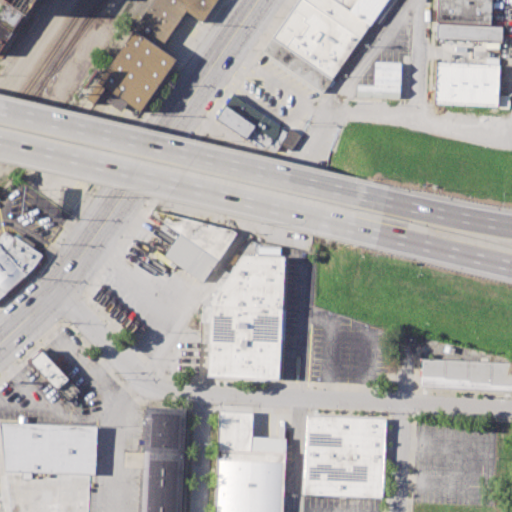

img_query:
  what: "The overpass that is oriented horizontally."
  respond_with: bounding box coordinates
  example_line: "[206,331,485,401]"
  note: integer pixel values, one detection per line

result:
[0,95,512,284]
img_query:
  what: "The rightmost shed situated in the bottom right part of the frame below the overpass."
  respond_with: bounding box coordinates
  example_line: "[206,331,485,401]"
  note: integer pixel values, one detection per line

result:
[422,360,512,392]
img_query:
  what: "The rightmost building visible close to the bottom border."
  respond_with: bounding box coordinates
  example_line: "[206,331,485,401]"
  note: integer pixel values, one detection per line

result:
[304,416,387,499]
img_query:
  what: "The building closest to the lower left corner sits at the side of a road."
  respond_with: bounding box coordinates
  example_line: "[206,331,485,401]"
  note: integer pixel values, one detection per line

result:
[1,424,98,512]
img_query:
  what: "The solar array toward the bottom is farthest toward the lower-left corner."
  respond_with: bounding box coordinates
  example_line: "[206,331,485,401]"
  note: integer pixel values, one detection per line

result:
[214,318,234,341]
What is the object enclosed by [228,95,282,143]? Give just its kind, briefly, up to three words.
building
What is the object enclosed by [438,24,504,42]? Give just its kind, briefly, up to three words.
shed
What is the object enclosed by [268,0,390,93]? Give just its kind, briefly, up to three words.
building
